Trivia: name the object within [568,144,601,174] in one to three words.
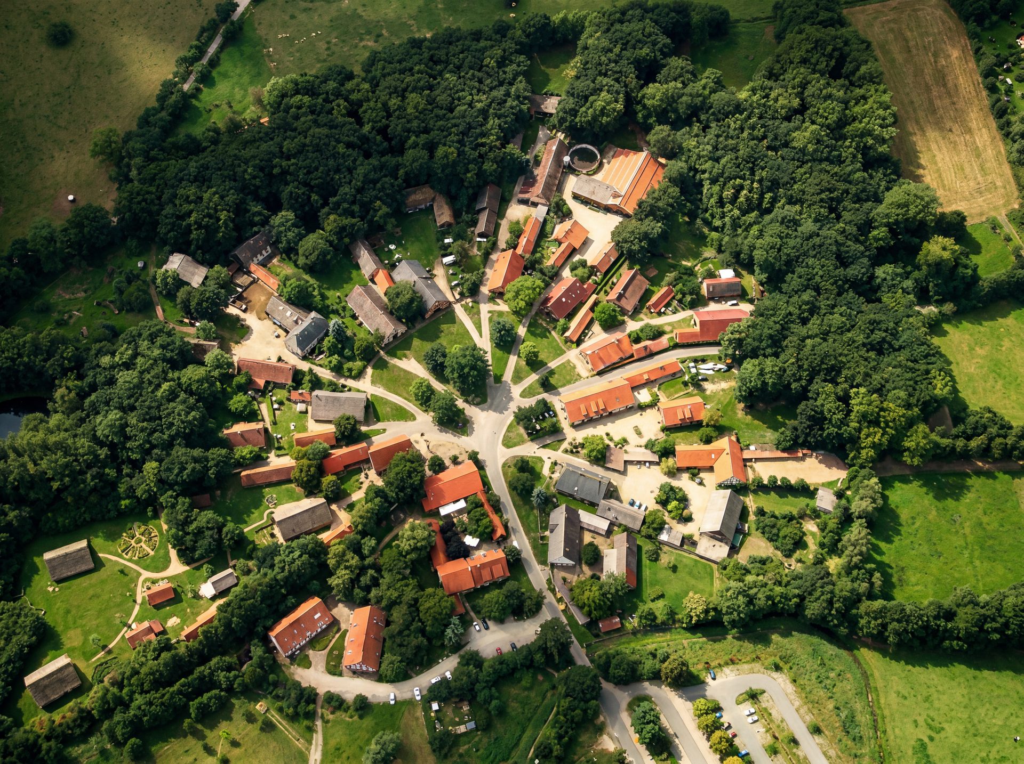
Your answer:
storage tank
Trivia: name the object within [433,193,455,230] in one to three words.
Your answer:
barn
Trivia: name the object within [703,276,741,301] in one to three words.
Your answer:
building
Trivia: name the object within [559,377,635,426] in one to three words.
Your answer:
house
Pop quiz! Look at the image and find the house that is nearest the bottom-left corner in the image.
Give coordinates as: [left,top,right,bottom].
[27,654,82,708]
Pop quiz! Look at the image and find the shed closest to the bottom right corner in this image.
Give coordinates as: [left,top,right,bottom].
[817,488,838,512]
